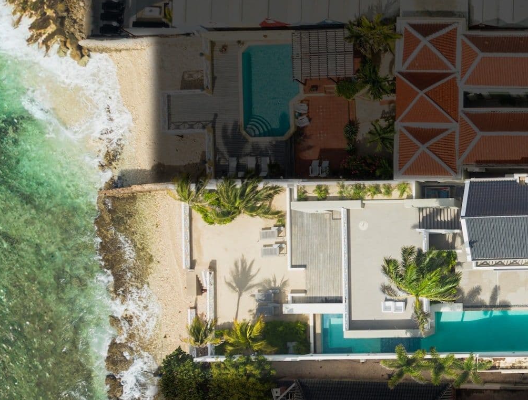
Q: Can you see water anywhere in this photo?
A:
Yes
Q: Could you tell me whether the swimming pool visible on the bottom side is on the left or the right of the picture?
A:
right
